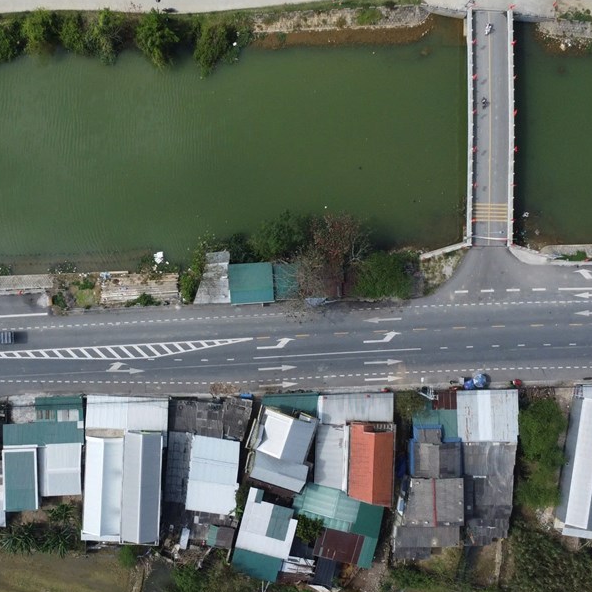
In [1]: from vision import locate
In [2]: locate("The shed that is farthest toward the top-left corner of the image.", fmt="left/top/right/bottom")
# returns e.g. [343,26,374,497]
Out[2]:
[193,251,231,304]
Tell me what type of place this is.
residential area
